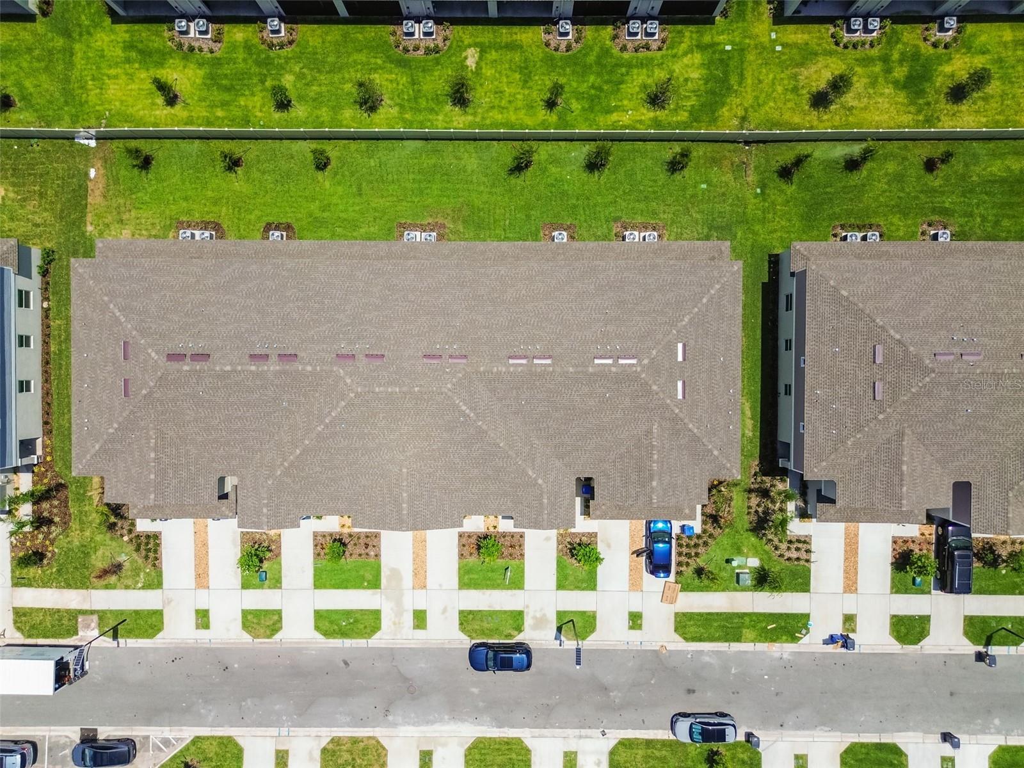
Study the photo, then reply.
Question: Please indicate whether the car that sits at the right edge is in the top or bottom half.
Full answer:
It is in the bottom half that the car that sits at the right edge appears.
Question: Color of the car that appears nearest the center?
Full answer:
The color of the car that appears nearest the center is blue.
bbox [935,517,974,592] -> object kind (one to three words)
car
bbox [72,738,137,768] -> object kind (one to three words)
car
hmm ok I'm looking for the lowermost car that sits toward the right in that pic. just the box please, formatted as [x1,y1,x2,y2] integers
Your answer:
[672,711,739,746]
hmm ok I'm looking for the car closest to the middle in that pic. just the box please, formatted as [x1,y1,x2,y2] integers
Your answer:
[634,517,676,577]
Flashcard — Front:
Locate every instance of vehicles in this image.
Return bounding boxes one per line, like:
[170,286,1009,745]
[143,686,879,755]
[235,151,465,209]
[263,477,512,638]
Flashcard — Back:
[0,644,86,696]
[672,711,739,746]
[72,738,137,768]
[470,643,532,676]
[634,517,676,577]
[0,742,36,768]
[935,517,974,592]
